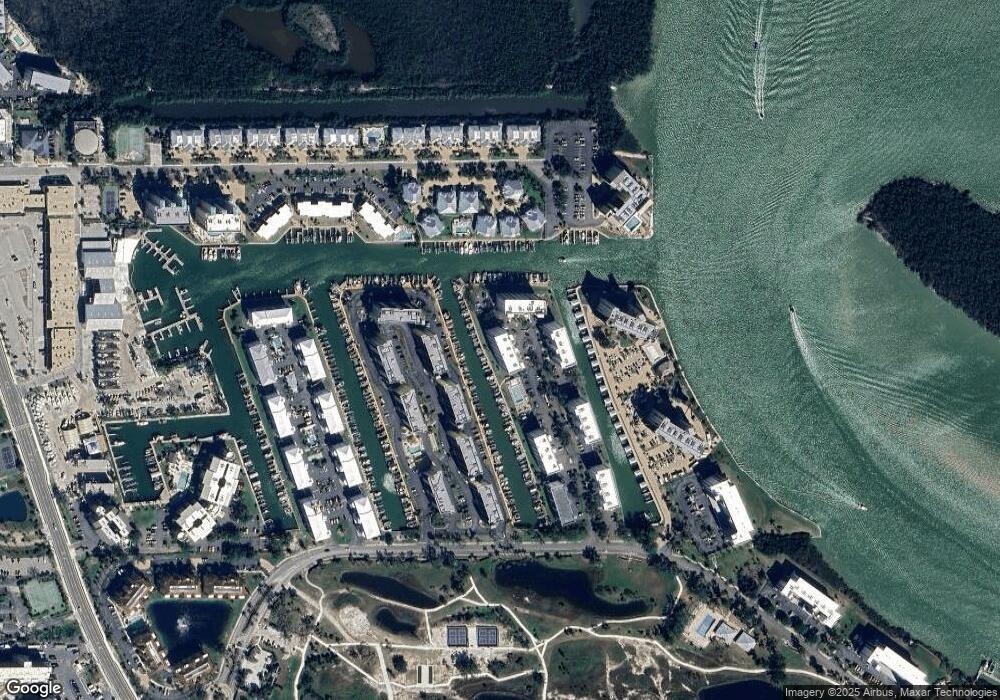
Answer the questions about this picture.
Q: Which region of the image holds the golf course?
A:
bottom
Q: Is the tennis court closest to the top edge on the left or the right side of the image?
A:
left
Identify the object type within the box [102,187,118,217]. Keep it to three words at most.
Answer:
tennis court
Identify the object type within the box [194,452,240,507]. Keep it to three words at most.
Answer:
building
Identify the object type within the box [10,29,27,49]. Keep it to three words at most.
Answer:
swimming pool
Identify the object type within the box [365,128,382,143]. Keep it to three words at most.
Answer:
swimming pool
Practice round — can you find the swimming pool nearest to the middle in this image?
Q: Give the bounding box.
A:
[508,382,525,404]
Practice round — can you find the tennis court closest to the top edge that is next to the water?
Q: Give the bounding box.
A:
[117,126,145,154]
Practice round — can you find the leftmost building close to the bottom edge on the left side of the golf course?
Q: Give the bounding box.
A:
[0,660,52,688]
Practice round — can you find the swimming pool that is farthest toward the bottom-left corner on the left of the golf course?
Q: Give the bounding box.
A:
[124,610,144,624]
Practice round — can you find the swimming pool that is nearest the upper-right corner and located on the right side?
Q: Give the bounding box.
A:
[624,215,643,234]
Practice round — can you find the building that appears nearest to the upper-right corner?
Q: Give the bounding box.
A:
[601,165,648,222]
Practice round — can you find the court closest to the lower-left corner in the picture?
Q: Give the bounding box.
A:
[25,579,64,615]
